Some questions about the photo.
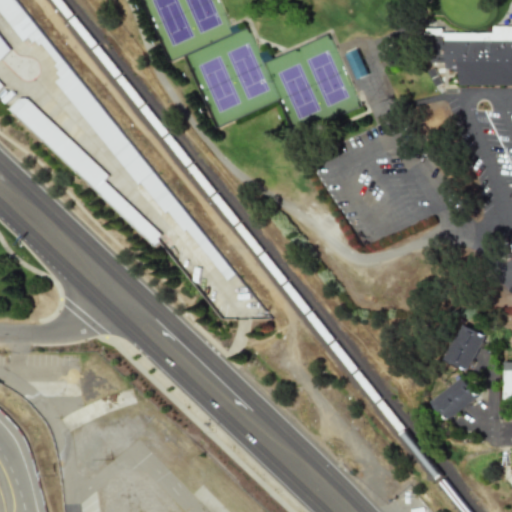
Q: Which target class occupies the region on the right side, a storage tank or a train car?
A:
train car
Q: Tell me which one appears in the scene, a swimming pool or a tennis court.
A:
tennis court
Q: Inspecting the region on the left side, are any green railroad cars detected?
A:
No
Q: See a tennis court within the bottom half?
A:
No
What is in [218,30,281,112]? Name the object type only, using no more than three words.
tennis court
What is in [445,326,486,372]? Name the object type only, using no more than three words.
house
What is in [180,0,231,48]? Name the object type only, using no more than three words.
tennis court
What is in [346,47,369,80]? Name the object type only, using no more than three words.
building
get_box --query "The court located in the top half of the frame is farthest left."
[147,0,198,60]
